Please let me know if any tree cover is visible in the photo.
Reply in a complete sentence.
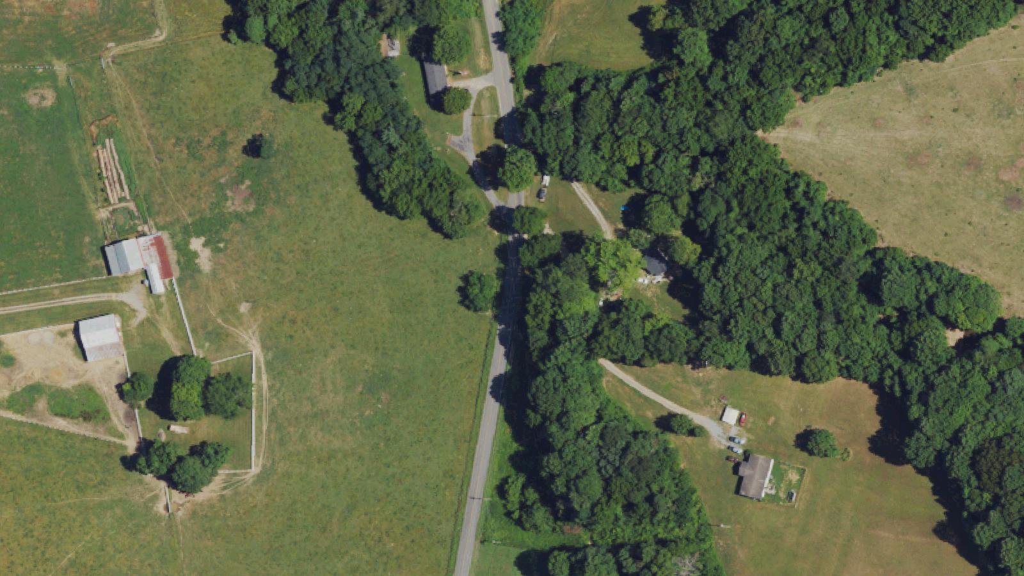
Yes, tree cover shows up in the scene.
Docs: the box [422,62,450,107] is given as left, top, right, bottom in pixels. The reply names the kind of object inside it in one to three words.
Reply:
house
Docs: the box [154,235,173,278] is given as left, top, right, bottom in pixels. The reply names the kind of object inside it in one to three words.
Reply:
shed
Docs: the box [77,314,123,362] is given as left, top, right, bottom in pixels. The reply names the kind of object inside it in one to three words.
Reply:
barn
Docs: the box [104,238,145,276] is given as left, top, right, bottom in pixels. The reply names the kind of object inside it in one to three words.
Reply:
barn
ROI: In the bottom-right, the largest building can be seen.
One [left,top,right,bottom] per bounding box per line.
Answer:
[737,455,773,499]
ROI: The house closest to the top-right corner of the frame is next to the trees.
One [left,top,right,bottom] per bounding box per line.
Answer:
[642,255,666,276]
